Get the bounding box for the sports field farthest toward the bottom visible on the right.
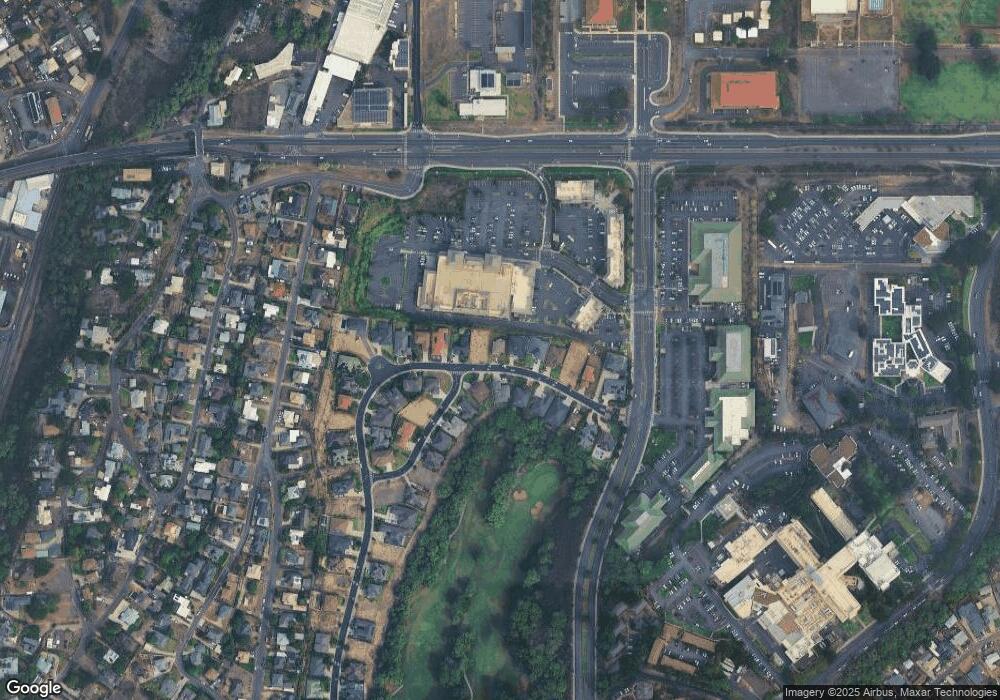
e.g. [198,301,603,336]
[899,62,1000,121]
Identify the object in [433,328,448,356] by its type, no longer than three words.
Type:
house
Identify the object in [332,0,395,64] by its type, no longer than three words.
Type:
building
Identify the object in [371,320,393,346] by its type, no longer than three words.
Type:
house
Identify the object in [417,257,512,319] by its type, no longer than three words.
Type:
building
